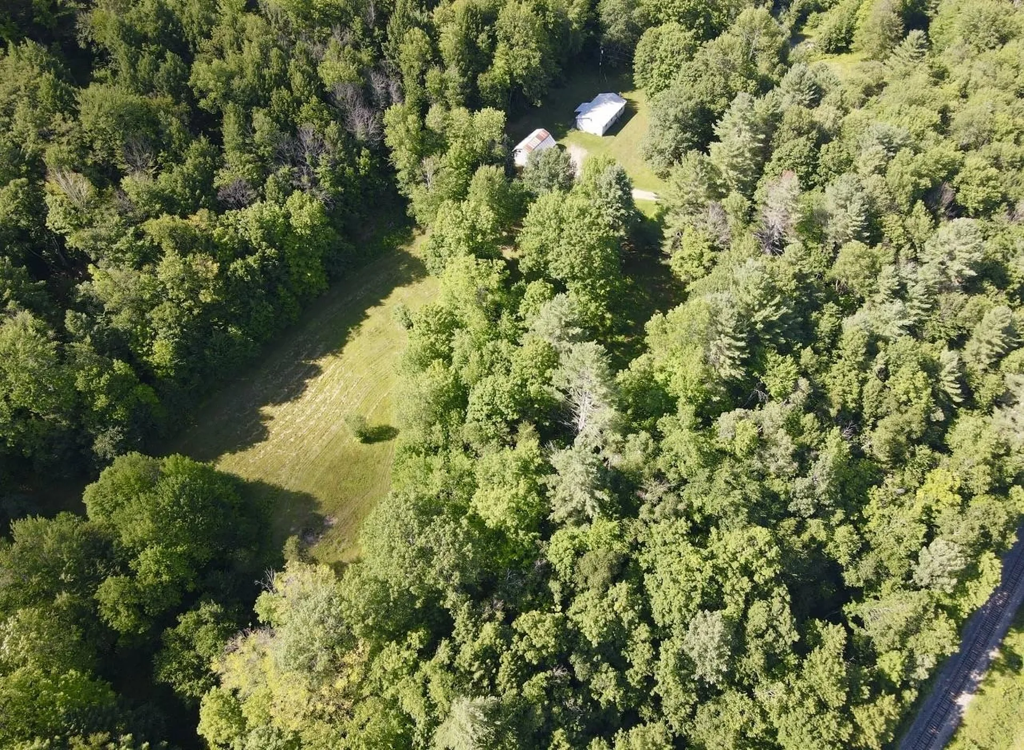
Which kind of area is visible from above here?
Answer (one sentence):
This looks like a forest.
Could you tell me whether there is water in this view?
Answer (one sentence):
No, the scene doesn't show any water.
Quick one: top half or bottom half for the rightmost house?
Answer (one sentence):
Seen from above, the rightmost house lies in the top half of the view.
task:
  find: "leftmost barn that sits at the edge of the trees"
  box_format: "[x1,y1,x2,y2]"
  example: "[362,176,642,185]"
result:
[513,127,556,167]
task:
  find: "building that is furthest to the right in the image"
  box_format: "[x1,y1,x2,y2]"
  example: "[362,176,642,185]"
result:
[575,90,626,136]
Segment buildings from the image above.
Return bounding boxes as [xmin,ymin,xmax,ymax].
[513,127,556,167]
[575,90,626,136]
